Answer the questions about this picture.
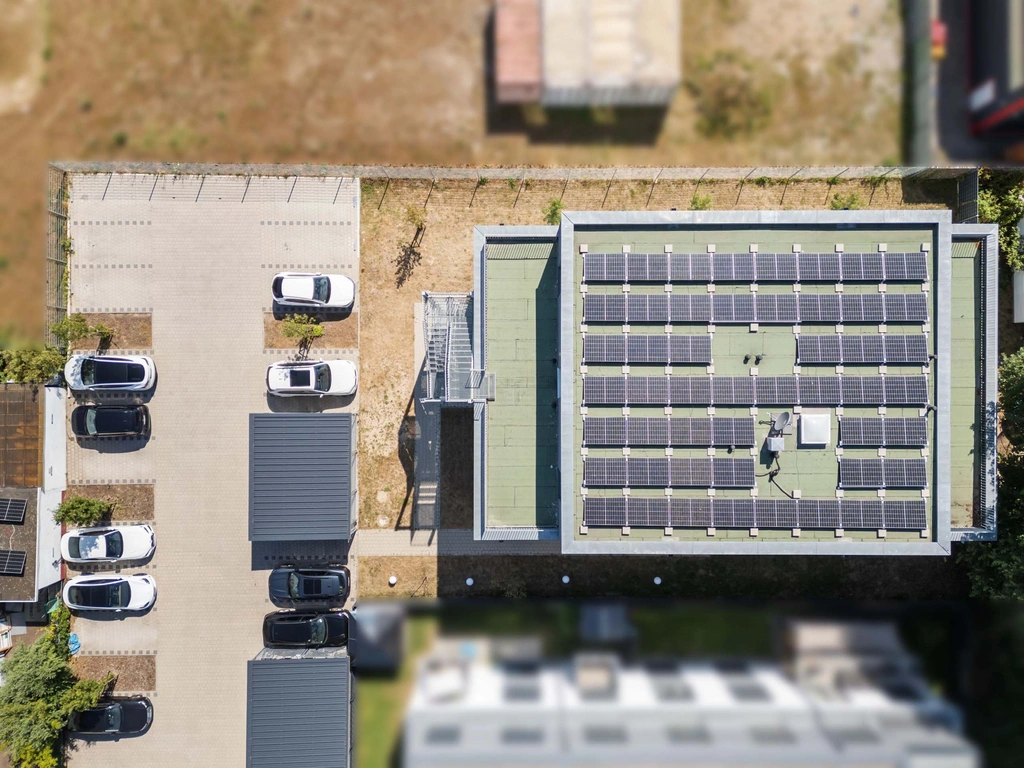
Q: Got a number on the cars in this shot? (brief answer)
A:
9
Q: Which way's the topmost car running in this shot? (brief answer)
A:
from left to right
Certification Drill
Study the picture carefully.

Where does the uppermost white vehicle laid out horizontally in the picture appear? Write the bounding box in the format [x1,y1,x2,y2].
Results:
[273,270,355,309]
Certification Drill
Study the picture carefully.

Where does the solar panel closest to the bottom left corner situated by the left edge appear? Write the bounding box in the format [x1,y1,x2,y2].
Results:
[0,547,28,575]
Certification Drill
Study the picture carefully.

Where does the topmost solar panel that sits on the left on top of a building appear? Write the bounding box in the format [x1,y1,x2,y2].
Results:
[0,497,28,524]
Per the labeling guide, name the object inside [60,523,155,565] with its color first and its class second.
white car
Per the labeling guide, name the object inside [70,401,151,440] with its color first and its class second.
black car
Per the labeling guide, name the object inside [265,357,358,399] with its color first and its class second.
white car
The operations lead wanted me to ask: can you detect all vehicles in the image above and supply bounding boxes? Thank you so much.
[270,566,352,608]
[66,696,155,739]
[63,351,157,394]
[62,572,157,614]
[265,357,358,399]
[70,401,151,440]
[60,523,155,565]
[262,609,350,648]
[273,270,355,309]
